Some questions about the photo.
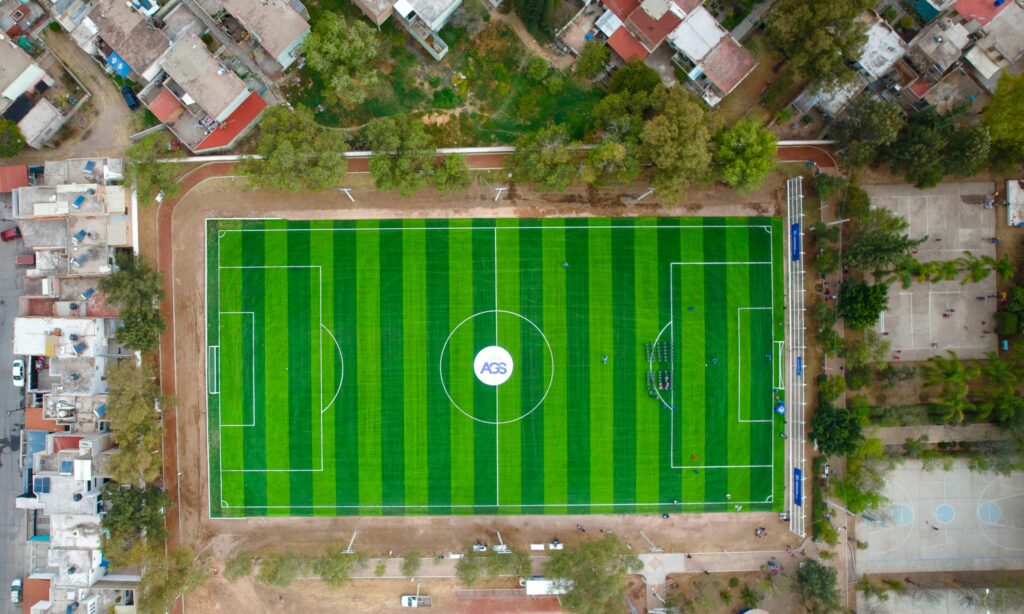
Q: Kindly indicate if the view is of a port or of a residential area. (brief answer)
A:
residential area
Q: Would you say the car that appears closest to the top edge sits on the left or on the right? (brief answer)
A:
left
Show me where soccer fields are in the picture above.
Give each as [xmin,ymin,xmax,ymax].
[206,215,784,519]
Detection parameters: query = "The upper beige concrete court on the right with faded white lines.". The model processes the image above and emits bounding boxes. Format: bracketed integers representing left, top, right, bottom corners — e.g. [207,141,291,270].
[864,181,996,262]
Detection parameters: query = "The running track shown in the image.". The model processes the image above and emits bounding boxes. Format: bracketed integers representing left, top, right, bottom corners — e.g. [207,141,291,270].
[158,146,837,614]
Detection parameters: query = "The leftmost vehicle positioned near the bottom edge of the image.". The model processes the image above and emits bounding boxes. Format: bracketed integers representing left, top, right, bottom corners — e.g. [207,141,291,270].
[9,578,23,604]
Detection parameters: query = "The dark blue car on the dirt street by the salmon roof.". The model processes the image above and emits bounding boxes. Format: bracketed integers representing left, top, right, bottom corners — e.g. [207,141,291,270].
[117,82,140,109]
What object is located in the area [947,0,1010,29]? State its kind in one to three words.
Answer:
house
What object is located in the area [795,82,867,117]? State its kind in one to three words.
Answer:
house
